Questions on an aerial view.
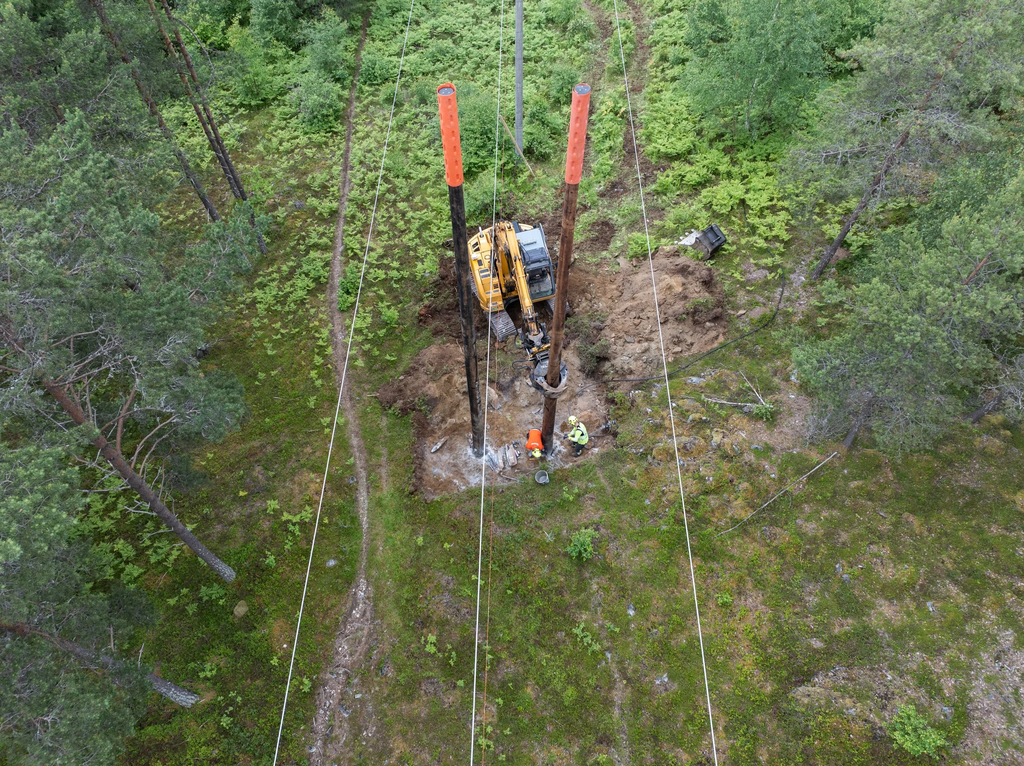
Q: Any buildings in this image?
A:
No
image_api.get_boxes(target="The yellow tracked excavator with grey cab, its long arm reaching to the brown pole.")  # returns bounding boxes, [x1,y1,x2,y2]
[469,211,572,397]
